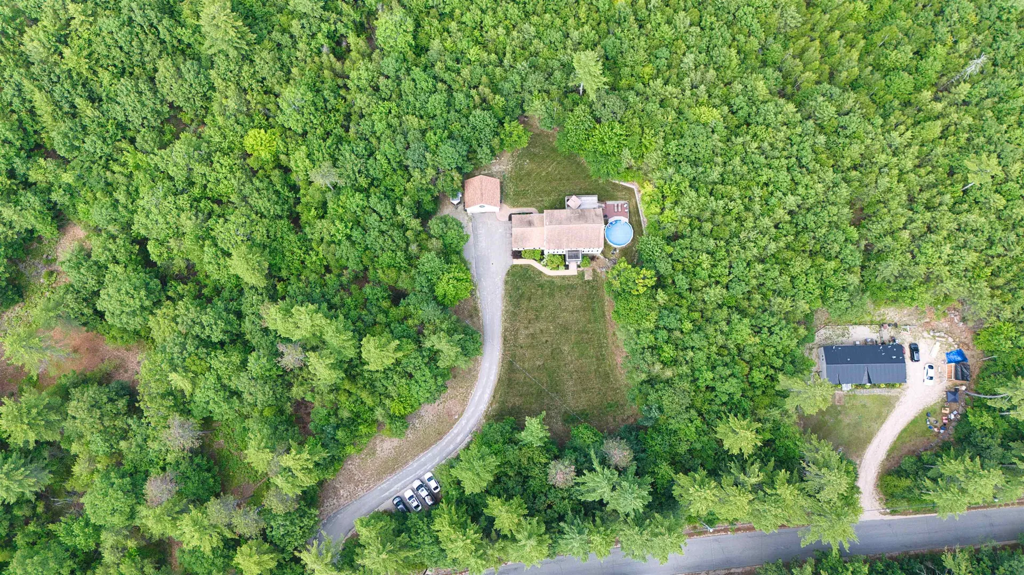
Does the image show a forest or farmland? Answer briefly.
forest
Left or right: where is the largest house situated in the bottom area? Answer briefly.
right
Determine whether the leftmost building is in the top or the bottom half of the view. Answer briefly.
top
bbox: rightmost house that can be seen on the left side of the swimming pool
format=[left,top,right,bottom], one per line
[512,208,605,267]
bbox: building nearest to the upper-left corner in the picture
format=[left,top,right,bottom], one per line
[465,175,500,211]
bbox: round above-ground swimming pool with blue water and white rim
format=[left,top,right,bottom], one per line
[605,219,633,248]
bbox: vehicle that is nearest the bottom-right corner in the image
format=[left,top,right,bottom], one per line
[923,363,936,386]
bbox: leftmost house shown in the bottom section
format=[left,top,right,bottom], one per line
[819,345,909,391]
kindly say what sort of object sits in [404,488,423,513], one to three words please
car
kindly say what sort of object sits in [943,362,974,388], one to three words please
shed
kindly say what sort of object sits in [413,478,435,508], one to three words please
truck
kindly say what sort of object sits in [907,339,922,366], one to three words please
vehicle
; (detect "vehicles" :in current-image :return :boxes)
[392,494,411,518]
[923,363,936,386]
[425,470,442,494]
[404,488,423,513]
[413,478,435,508]
[907,339,922,366]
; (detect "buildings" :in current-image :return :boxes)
[819,345,909,391]
[512,208,605,267]
[943,362,974,388]
[465,175,500,211]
